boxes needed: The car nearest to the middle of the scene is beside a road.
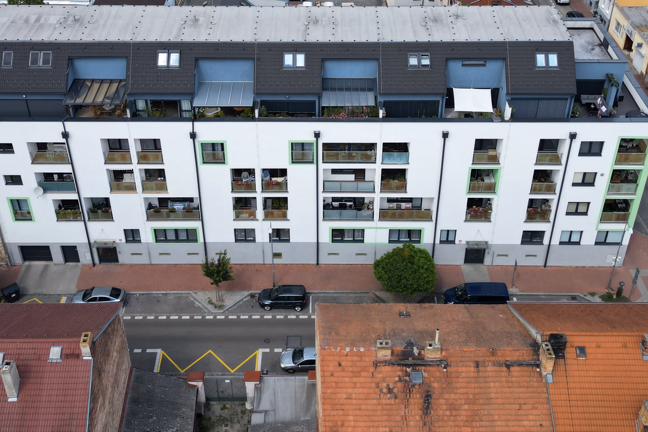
[256,284,313,314]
